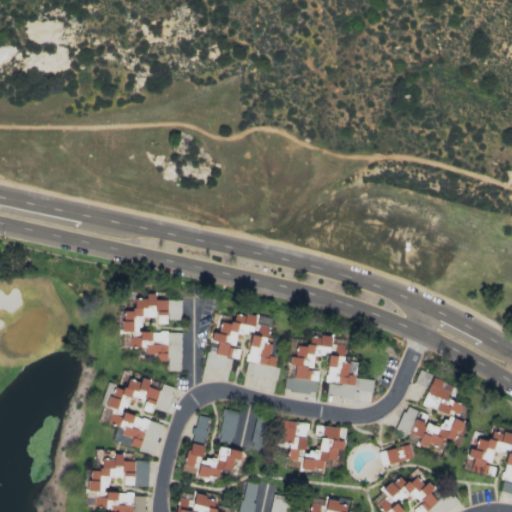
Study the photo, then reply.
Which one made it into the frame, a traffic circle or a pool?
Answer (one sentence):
It is a pool that can be seen here.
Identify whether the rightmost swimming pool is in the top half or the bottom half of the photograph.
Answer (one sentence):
The bottom half of the photo is where the rightmost swimming pool is.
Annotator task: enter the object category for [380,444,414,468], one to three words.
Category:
building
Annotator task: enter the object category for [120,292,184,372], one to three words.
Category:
house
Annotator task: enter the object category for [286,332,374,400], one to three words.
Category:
house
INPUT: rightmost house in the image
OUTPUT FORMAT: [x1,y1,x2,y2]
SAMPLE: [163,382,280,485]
[464,425,512,493]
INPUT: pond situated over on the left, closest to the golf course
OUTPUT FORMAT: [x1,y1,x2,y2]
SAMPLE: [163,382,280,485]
[0,352,81,512]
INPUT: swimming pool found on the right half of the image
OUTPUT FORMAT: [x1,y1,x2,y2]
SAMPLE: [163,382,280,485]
[347,443,388,482]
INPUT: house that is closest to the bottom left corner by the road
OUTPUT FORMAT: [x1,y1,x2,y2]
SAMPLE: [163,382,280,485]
[86,451,150,512]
